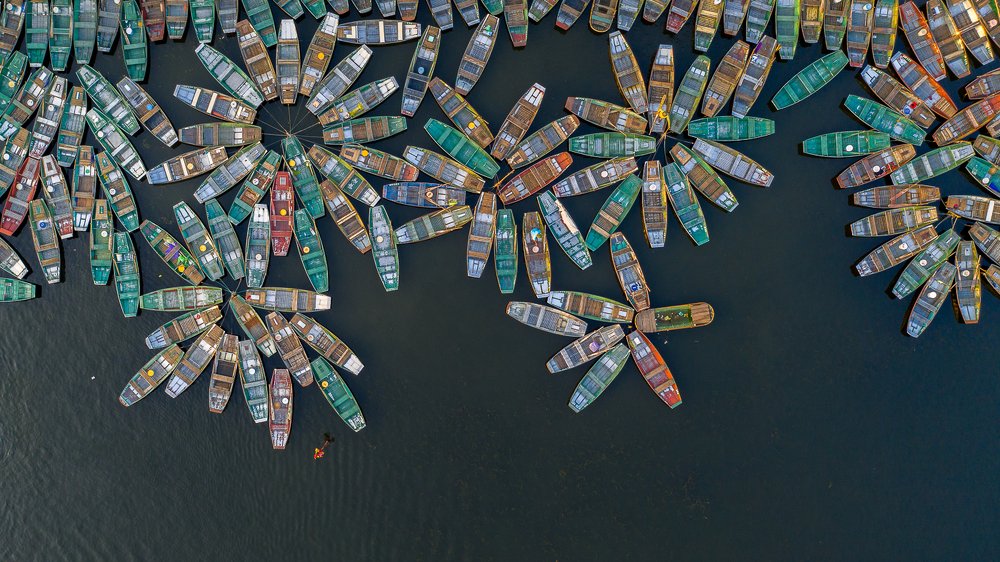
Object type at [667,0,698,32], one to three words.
boat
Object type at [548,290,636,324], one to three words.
boat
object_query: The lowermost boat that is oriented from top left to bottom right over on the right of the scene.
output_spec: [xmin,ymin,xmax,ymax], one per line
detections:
[627,329,682,409]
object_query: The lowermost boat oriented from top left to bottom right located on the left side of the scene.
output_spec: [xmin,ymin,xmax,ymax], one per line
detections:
[310,356,366,432]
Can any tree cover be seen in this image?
No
